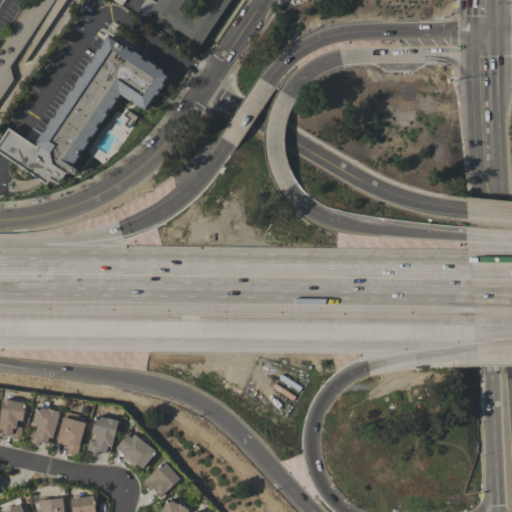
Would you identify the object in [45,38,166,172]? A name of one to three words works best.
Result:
building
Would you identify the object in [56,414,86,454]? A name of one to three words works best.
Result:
house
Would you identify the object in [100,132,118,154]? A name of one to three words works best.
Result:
swimming pool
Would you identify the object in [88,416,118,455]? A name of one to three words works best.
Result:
house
